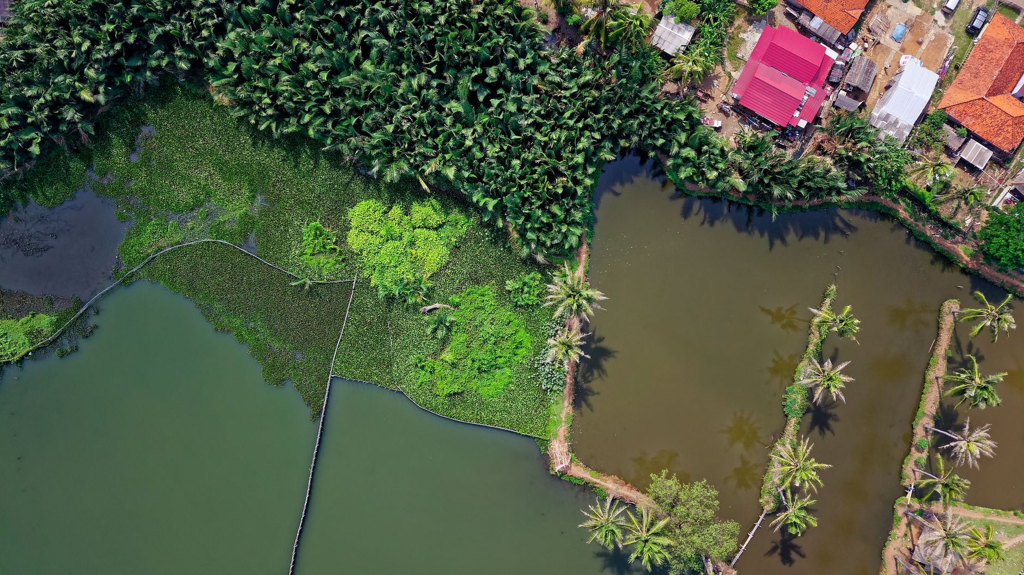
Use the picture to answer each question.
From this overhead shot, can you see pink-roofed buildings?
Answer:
Yes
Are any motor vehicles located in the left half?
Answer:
No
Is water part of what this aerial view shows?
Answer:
Yes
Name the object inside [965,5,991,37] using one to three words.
car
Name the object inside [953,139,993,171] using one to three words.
shed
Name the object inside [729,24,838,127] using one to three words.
house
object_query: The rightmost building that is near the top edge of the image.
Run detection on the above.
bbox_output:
[937,11,1024,154]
